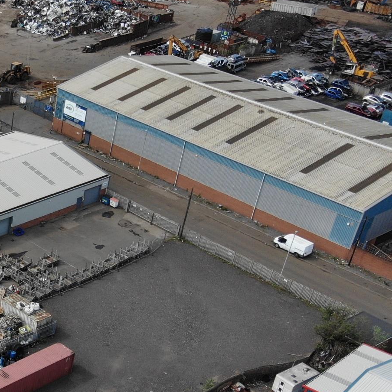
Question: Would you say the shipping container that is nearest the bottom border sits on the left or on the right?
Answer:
left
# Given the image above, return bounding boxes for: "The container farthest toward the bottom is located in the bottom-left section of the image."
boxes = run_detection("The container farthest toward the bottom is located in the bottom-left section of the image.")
[0,342,75,392]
